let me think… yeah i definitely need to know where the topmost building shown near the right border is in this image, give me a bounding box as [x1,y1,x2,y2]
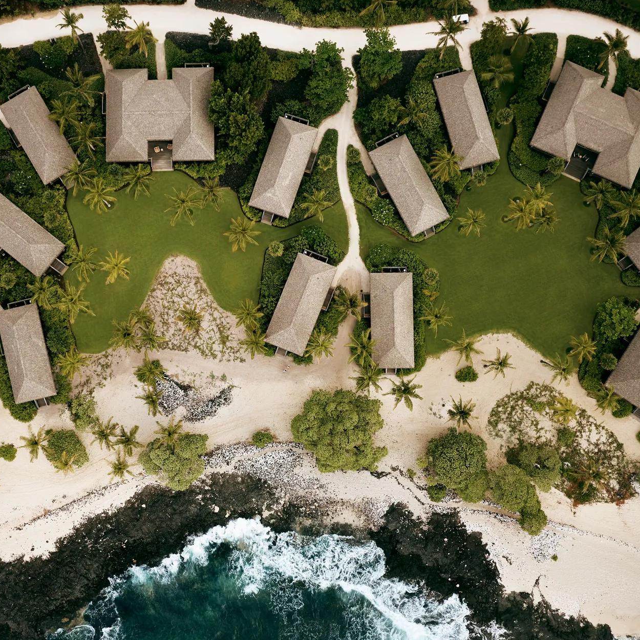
[529,60,640,188]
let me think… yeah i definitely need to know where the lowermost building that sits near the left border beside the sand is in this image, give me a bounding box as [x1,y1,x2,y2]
[0,298,57,413]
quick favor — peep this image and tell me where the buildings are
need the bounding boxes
[367,132,449,245]
[529,60,640,188]
[602,324,640,425]
[361,266,414,382]
[431,68,500,185]
[0,298,57,413]
[263,249,337,363]
[607,228,640,277]
[103,65,214,178]
[0,193,72,278]
[0,84,79,195]
[249,113,318,231]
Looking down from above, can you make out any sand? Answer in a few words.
Yes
